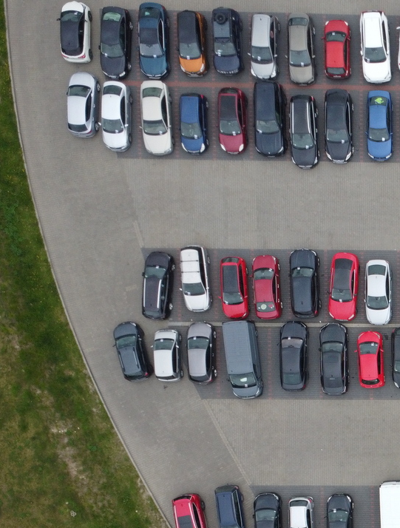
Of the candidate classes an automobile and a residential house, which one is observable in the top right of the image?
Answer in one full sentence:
What appears in the top right of the image is an automobile.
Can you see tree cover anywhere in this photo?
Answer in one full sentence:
No, there is no tree cover in the image.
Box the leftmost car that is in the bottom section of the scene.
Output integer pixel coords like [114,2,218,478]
[108,320,150,382]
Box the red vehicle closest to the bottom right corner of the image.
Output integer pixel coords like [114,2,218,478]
[354,332,386,389]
